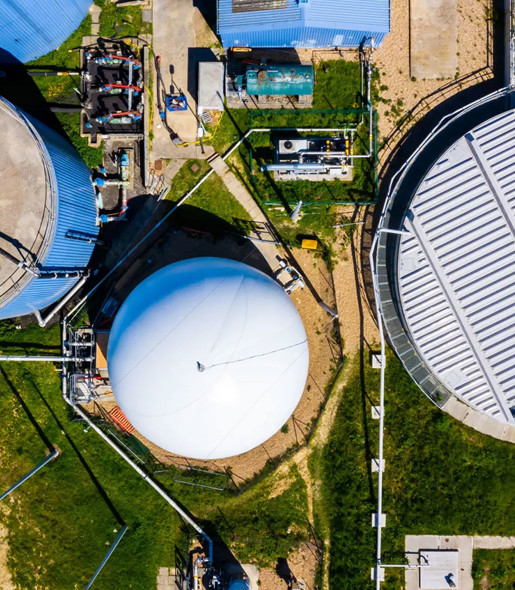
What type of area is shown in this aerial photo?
industrial area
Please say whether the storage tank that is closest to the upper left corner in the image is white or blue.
blue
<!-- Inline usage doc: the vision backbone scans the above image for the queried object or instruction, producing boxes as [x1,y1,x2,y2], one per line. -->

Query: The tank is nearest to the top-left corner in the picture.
[0,0,93,67]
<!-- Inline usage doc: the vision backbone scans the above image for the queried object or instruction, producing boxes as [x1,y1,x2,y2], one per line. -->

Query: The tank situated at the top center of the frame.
[230,63,316,101]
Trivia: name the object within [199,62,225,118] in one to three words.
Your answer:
shed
